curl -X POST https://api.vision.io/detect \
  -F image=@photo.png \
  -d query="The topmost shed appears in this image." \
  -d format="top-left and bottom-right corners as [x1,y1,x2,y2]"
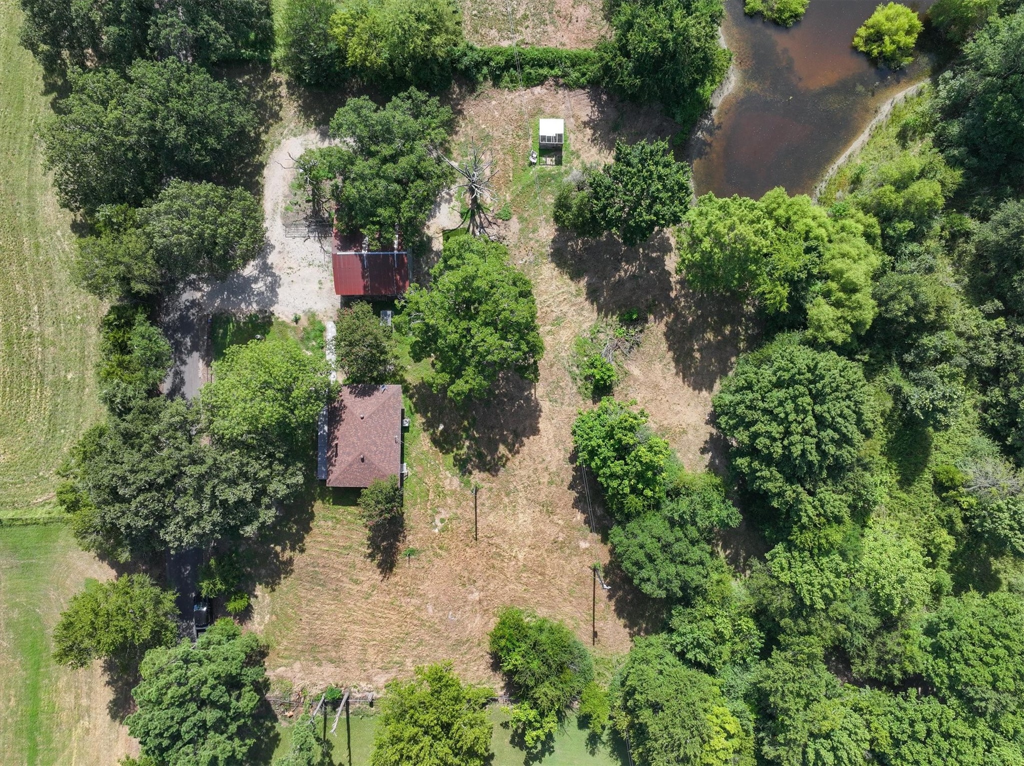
[539,118,563,149]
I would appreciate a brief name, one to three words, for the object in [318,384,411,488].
house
